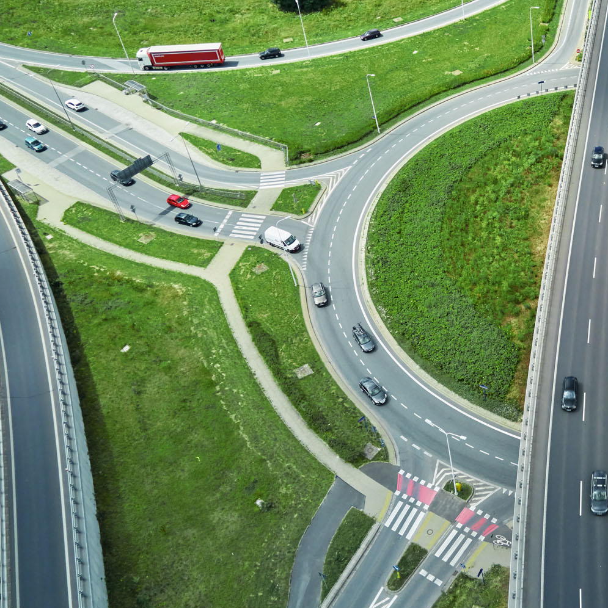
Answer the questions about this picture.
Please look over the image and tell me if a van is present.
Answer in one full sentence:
Yes, a van is visible in the scene.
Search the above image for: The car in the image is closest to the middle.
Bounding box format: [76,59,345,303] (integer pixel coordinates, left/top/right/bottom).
[310,279,327,306]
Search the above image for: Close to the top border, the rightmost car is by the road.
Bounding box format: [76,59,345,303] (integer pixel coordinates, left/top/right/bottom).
[360,26,381,39]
